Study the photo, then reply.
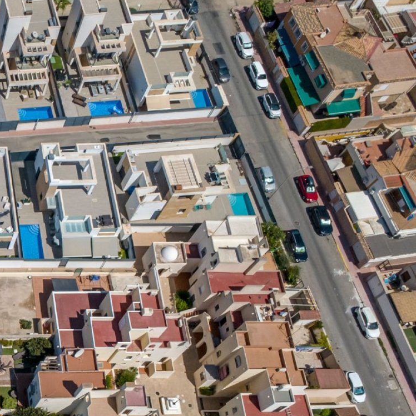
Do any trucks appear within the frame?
No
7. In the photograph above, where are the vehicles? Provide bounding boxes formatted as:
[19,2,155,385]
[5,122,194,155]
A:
[212,58,230,84]
[285,230,308,264]
[247,63,268,90]
[255,166,276,194]
[308,204,333,238]
[295,174,318,203]
[234,31,252,59]
[352,305,381,341]
[179,0,199,16]
[261,93,282,119]
[344,371,368,405]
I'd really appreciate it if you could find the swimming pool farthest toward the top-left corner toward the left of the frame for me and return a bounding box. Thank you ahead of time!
[19,105,53,120]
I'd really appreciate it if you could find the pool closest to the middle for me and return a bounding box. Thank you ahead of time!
[228,192,255,215]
